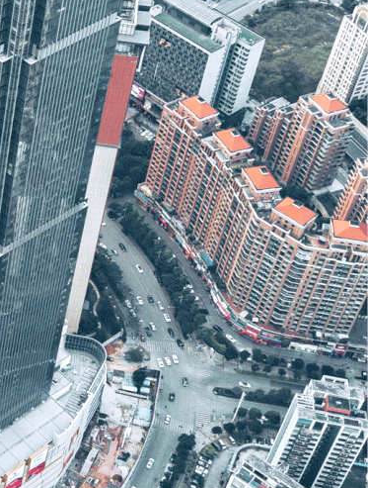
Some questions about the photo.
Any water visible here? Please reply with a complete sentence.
No, the scene doesn't show any water.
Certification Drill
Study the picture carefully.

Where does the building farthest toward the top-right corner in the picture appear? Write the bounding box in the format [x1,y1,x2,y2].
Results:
[322,9,368,116]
